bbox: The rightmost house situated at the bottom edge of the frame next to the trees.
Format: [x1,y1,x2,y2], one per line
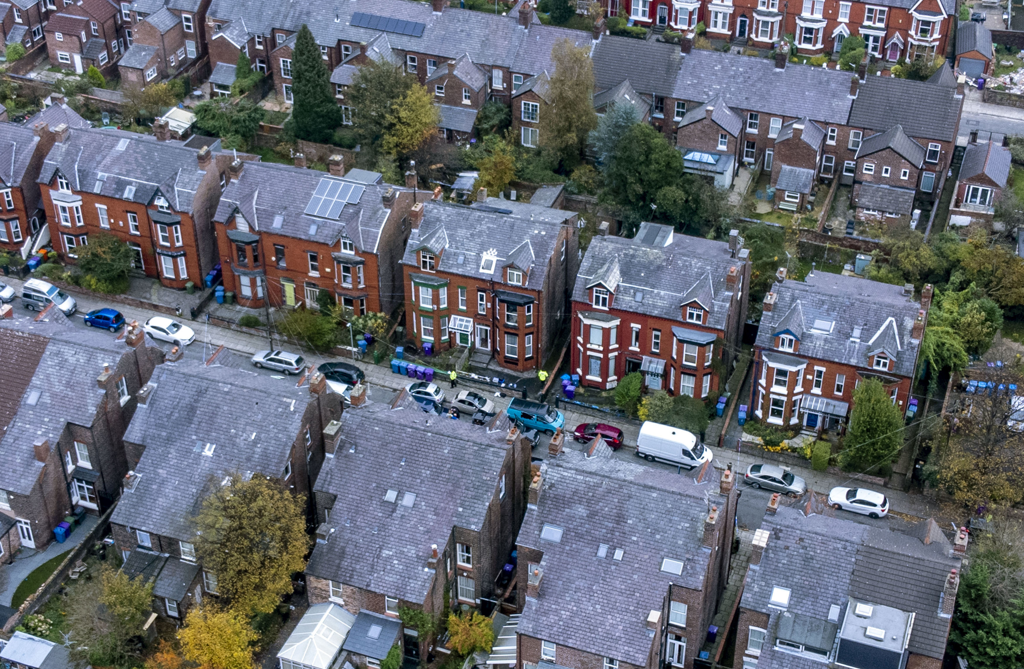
[730,488,968,669]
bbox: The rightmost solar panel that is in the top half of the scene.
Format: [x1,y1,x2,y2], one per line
[461,200,523,213]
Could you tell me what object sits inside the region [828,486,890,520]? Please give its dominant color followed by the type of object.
white car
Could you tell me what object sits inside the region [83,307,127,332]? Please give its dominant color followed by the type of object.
blue car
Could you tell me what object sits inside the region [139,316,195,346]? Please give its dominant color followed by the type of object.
white car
